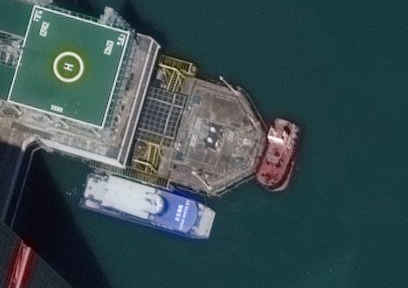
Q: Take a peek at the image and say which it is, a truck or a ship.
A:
ship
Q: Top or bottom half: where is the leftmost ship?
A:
bottom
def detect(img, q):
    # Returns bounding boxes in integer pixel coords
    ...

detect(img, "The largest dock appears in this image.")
[157,75,272,204]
